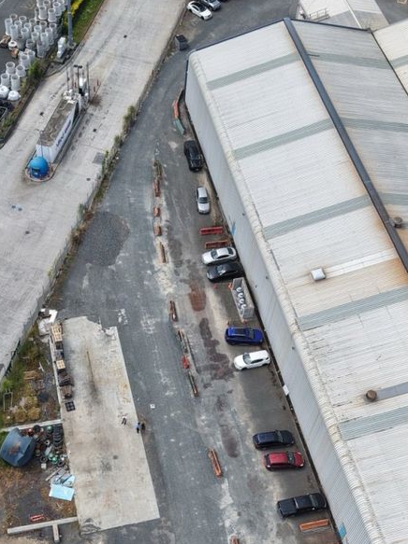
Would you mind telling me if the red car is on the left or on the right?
right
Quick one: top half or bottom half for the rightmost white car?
bottom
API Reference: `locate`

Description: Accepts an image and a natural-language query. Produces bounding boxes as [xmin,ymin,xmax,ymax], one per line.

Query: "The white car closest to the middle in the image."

[201,246,238,266]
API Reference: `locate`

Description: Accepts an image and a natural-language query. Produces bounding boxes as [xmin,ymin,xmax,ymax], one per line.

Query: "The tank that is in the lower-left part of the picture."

[0,435,34,472]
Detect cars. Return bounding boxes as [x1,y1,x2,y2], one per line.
[195,186,211,212]
[207,263,244,283]
[265,451,304,471]
[200,0,221,9]
[226,325,263,345]
[186,141,203,168]
[253,428,296,448]
[187,1,213,19]
[234,349,271,370]
[201,246,238,266]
